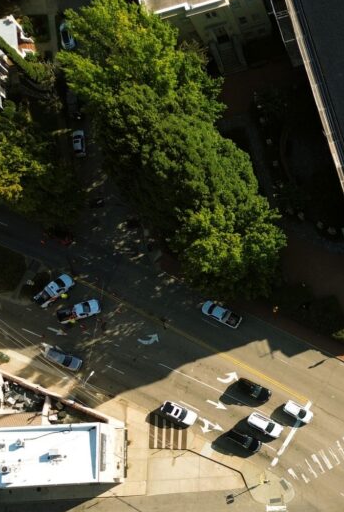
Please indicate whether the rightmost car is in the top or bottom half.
bottom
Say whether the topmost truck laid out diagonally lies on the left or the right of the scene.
left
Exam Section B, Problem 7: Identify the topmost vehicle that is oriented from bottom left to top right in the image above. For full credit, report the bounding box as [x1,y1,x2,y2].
[29,272,79,311]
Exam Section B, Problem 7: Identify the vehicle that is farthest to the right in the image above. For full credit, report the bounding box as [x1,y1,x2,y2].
[280,398,316,426]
